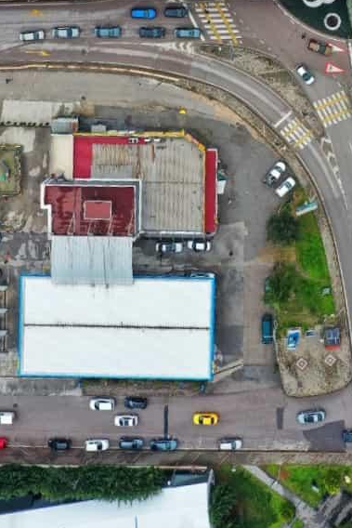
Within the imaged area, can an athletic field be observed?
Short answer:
No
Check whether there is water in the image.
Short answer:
No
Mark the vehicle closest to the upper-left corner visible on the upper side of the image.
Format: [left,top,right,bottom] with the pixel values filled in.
[20,29,45,42]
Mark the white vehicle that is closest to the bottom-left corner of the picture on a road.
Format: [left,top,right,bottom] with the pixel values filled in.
[0,407,17,422]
